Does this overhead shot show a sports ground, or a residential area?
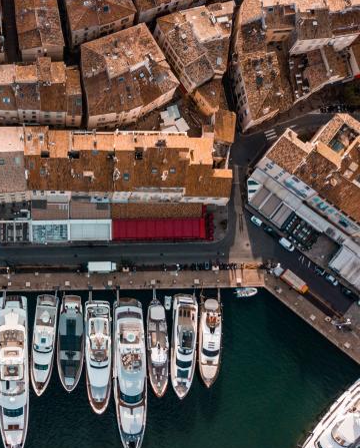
residential area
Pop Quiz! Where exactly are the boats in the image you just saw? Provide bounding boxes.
[142,292,169,403]
[168,287,200,406]
[31,288,58,404]
[82,292,114,422]
[112,292,149,448]
[164,294,171,310]
[233,288,257,298]
[56,290,85,399]
[0,291,29,448]
[302,381,360,448]
[194,290,225,395]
